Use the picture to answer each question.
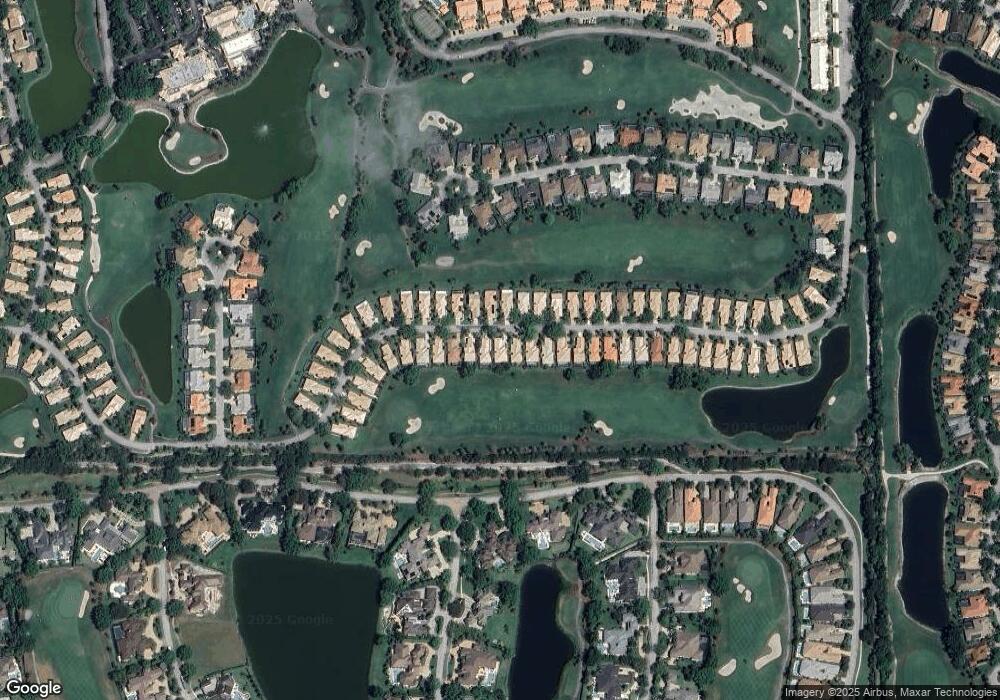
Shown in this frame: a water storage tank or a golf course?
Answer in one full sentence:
There is a golf course in the scene.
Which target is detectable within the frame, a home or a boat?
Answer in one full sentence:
It is a home that can be seen here.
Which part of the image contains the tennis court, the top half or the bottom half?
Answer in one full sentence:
The tennis court is in the top half of the image.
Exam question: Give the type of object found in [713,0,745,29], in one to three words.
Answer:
house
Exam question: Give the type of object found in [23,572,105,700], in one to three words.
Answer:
golf course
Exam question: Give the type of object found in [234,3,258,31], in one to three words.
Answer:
swimming pool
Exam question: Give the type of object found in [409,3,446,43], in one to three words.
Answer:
tennis court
